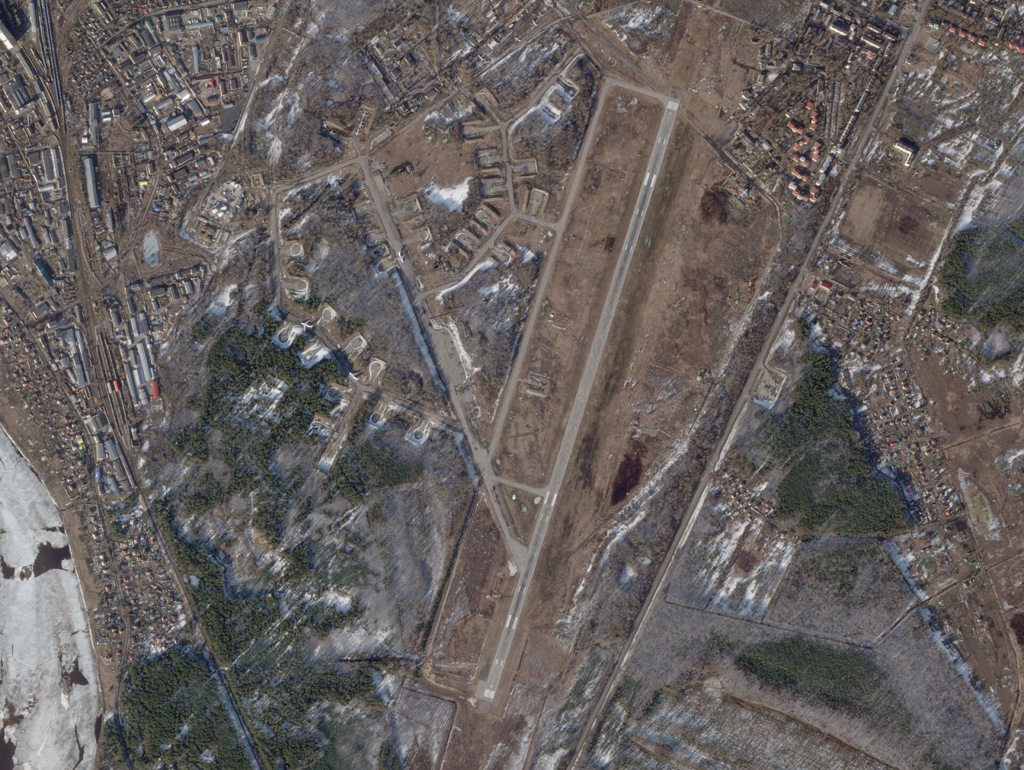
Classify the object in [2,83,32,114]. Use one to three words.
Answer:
building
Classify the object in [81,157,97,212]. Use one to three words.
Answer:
building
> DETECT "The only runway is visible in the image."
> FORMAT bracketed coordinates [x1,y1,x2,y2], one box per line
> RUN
[482,94,681,705]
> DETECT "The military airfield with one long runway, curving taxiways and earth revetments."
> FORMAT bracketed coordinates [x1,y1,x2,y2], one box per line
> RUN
[272,45,681,713]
